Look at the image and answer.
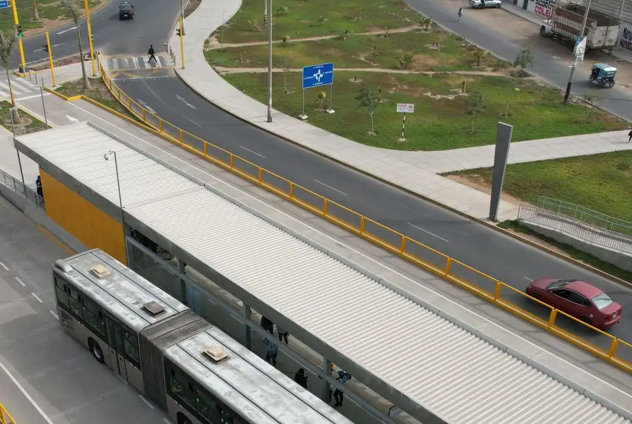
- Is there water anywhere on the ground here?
No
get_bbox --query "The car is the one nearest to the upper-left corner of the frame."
[113,1,134,20]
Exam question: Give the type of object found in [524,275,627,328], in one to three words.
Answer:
car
